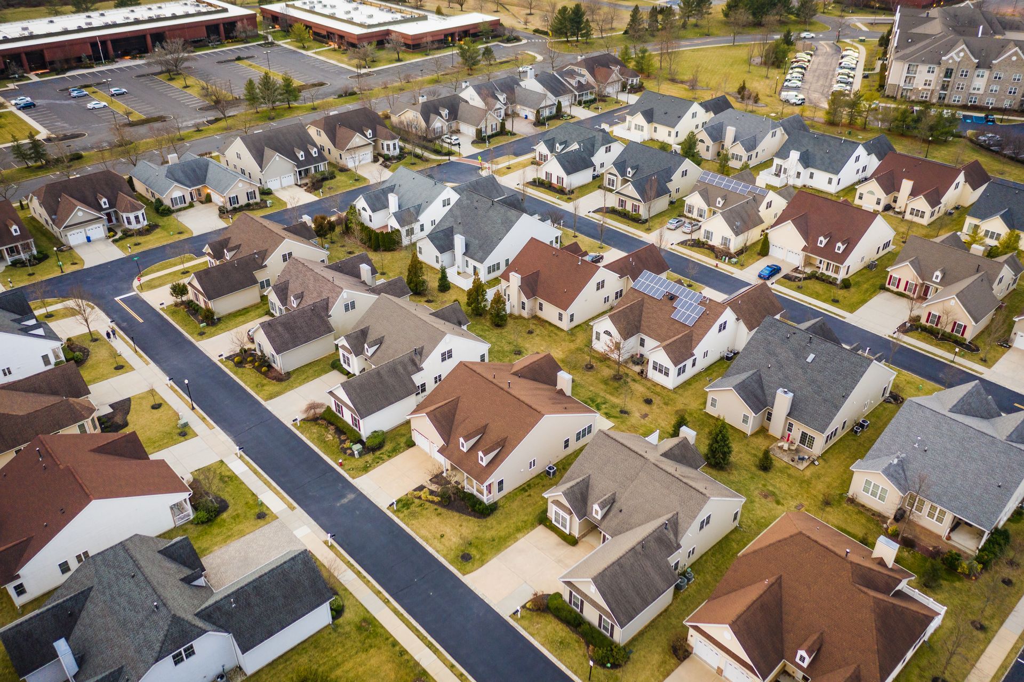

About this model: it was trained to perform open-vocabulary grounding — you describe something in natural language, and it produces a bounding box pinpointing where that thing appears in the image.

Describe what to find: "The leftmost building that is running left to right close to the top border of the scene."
[0,0,256,77]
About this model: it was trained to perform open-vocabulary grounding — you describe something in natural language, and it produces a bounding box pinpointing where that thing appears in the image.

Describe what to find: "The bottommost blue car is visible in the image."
[757,261,782,277]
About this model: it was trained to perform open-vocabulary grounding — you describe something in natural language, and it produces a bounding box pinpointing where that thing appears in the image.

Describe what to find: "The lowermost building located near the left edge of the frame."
[0,530,336,682]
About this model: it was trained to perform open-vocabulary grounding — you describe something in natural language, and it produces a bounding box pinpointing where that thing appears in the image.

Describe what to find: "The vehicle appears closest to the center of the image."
[587,249,605,263]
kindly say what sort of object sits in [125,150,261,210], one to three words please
house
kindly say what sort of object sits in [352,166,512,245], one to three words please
house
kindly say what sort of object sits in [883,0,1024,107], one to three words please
building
